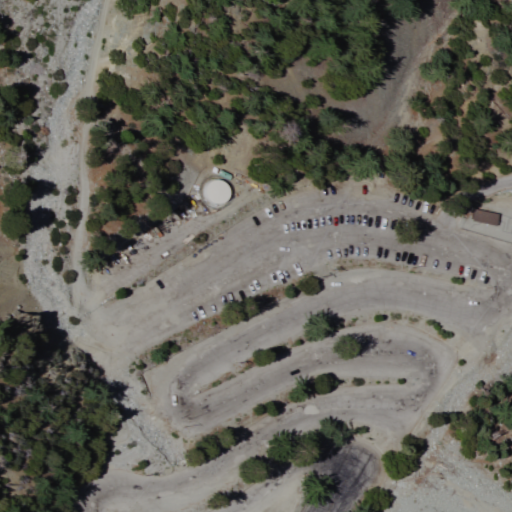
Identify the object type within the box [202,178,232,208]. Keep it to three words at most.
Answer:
water tank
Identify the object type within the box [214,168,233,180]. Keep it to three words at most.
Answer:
vehicle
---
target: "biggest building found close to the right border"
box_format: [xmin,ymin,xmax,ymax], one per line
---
[473,208,502,226]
